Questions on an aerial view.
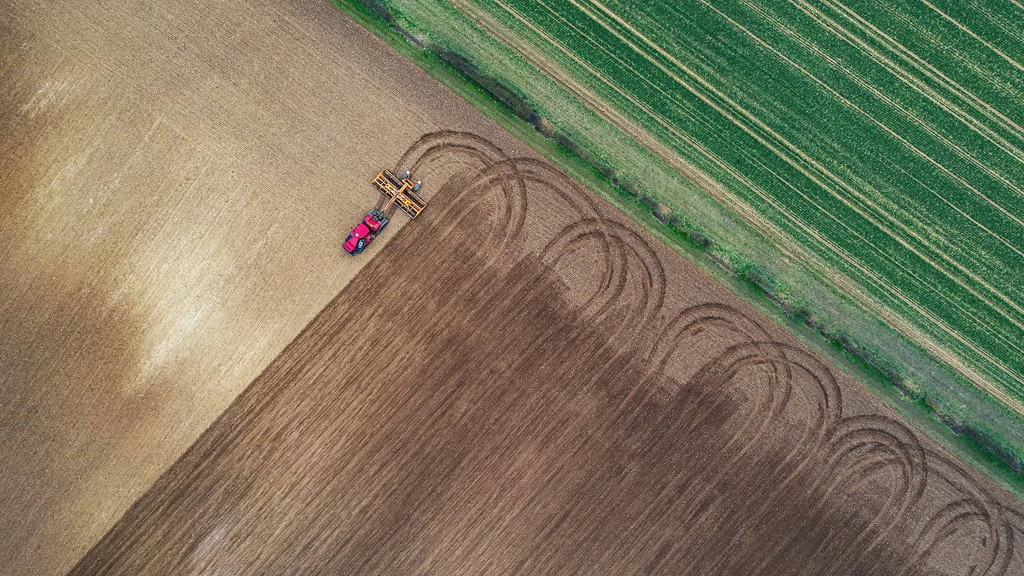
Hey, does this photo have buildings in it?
No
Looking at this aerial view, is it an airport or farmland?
farmland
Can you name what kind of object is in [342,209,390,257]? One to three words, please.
work vehicle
